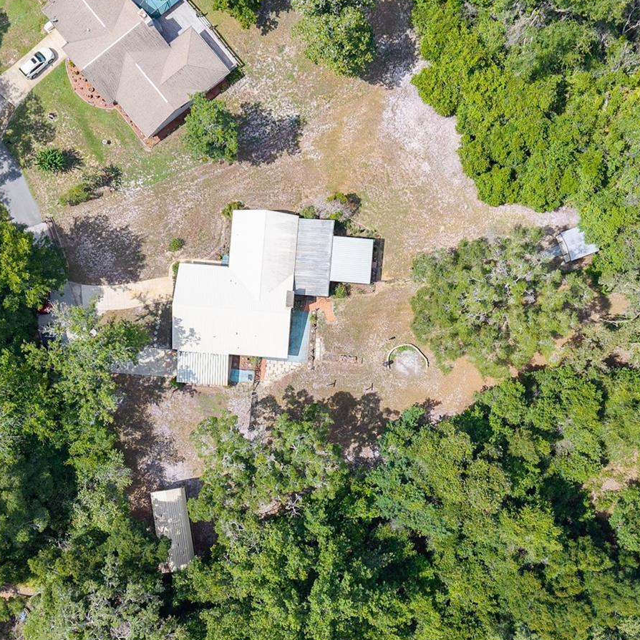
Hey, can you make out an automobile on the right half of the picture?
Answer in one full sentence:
No, I see no automobile on the right half of the picture.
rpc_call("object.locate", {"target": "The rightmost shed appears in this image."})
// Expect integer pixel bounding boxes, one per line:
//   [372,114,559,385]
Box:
[553,226,596,265]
